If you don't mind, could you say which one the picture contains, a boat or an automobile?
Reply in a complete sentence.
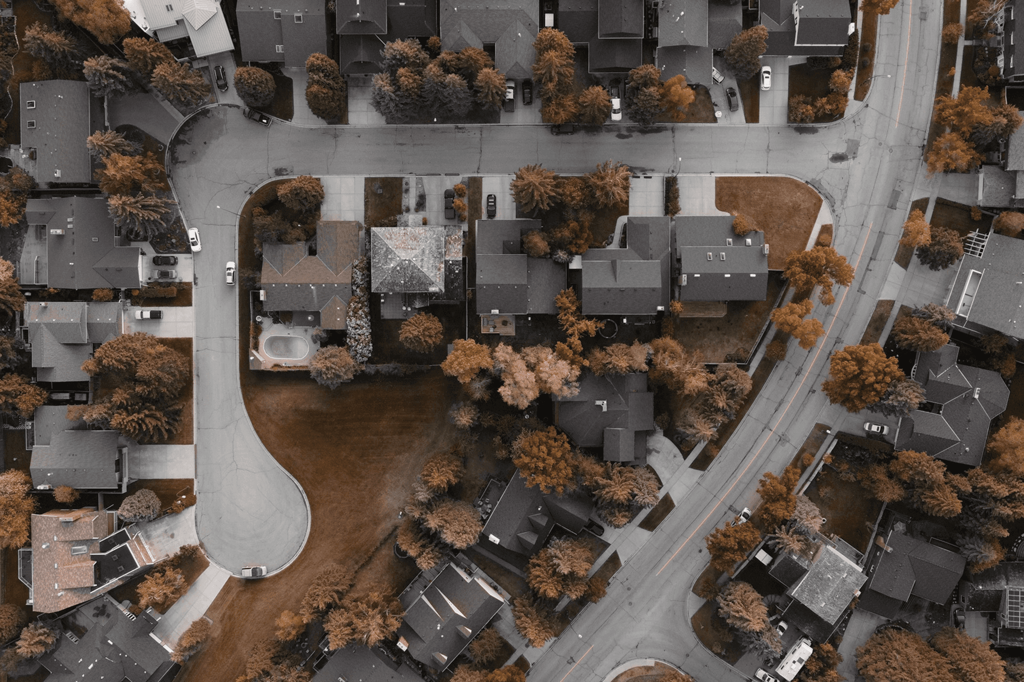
There is an automobile in the scene.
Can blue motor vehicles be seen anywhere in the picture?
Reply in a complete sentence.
No, I can't see a single blue motor vehicle in this photo.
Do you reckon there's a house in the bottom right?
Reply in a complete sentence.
Yes, looking in the bottom right, one can make out a house.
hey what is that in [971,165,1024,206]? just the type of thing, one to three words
building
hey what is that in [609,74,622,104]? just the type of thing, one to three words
vehicle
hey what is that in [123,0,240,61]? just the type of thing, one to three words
house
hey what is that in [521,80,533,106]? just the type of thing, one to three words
vehicle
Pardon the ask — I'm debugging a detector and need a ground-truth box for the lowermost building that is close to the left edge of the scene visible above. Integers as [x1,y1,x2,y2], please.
[28,610,174,682]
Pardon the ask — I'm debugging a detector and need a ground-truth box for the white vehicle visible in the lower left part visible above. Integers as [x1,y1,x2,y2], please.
[241,566,269,578]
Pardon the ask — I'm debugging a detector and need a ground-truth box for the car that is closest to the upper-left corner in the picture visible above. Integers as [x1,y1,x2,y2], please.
[213,65,230,92]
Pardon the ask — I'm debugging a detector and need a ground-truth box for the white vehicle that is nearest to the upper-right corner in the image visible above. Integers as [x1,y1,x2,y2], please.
[759,66,772,91]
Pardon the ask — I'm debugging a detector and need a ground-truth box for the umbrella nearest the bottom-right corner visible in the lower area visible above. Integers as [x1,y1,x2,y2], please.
[892,520,906,533]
